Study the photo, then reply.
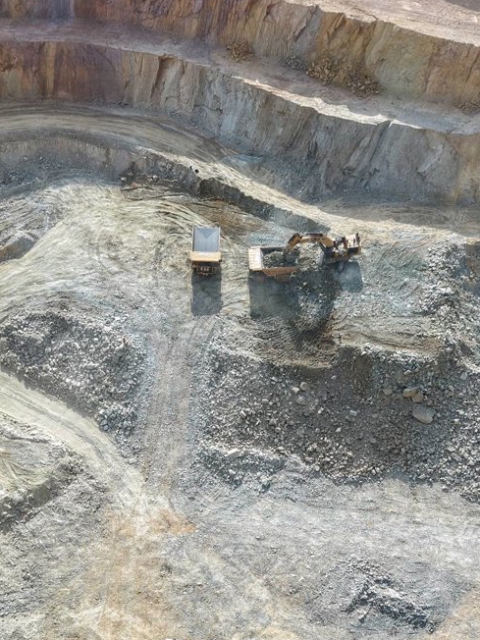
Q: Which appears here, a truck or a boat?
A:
truck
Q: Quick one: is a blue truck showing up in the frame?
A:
No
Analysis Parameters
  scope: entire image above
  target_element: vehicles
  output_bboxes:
[249,245,304,287]
[289,235,369,273]
[188,223,222,277]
